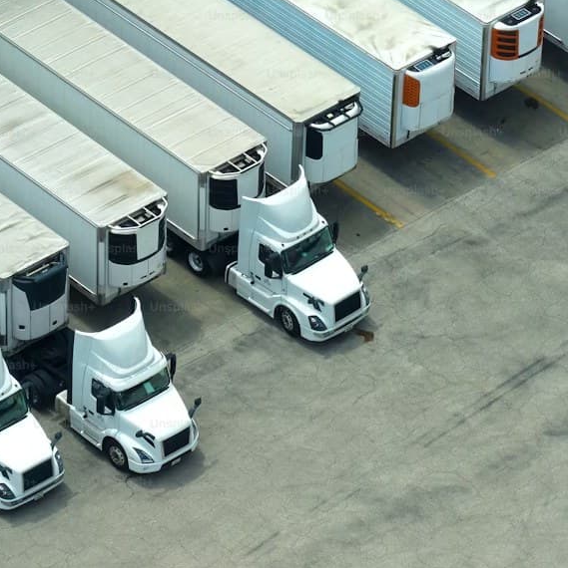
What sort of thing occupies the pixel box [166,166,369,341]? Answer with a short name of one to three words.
truck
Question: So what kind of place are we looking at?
parking lot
